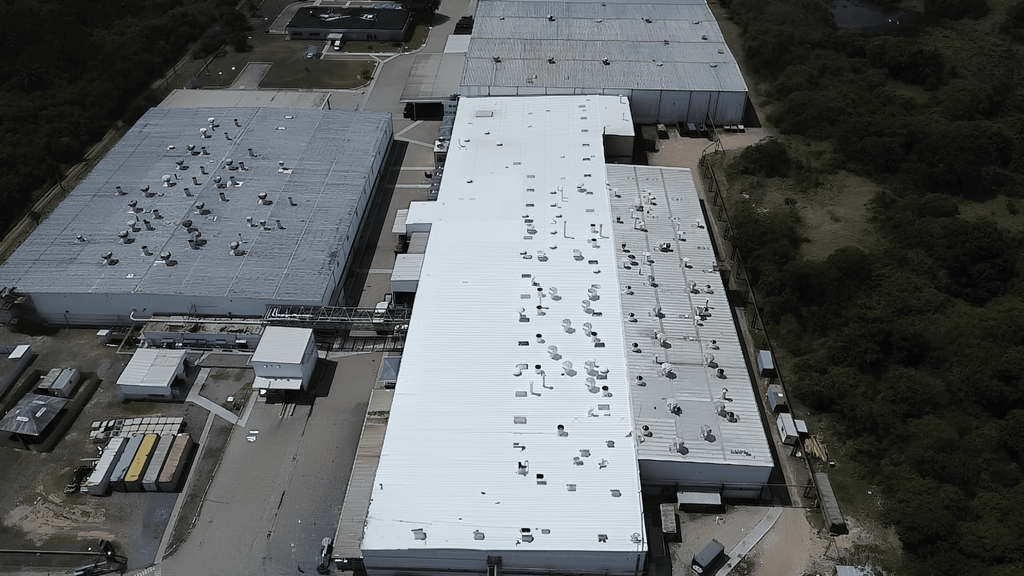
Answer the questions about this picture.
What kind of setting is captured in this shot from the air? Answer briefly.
industrial area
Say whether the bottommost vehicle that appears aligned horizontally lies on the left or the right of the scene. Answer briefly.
left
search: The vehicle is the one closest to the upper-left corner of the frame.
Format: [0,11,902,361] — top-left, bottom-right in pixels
[306,43,319,57]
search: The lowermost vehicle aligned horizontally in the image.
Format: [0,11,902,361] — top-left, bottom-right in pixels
[74,553,125,576]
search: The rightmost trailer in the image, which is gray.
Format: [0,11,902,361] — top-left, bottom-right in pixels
[814,473,845,534]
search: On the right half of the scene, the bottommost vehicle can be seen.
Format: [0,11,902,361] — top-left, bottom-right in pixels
[692,537,726,576]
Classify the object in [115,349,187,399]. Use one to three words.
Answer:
shed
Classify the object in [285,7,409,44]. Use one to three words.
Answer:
building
